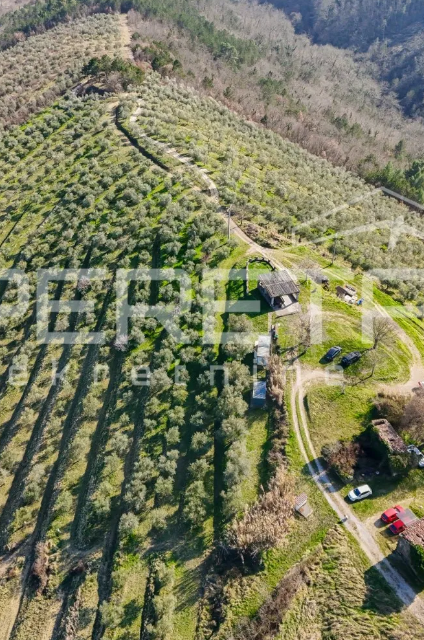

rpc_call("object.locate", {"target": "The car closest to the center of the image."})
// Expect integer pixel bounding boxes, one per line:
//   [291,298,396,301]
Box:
[324,344,344,361]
